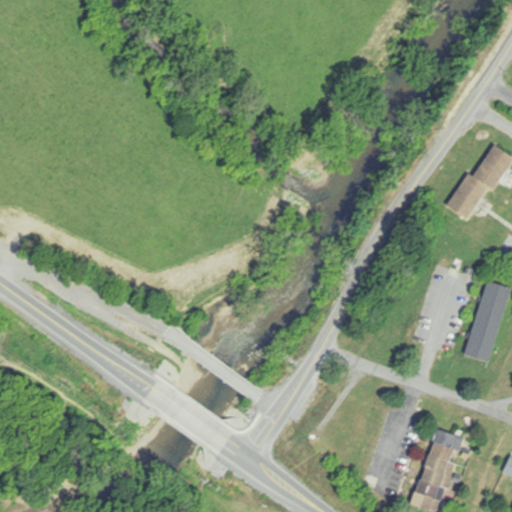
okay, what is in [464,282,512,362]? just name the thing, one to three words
building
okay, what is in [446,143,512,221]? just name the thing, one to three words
house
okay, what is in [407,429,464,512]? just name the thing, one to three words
building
